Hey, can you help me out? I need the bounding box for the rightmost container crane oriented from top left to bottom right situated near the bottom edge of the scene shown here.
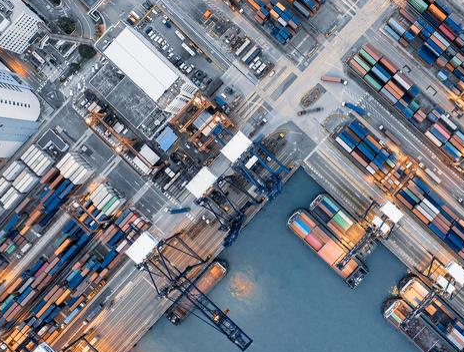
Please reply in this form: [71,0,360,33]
[126,224,251,349]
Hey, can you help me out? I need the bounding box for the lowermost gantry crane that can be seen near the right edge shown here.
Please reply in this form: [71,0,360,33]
[405,240,464,324]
